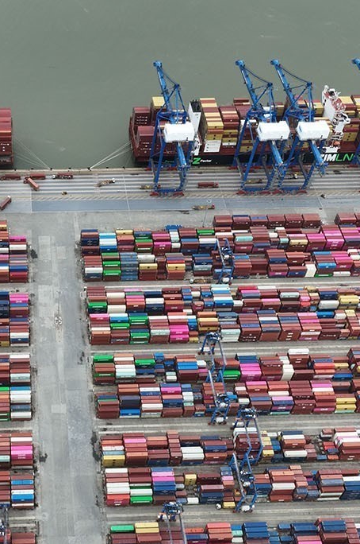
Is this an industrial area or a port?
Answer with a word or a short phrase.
port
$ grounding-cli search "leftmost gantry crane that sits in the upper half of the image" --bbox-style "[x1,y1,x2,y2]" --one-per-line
[147,63,197,195]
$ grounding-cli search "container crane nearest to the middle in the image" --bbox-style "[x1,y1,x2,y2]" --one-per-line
[214,238,238,284]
